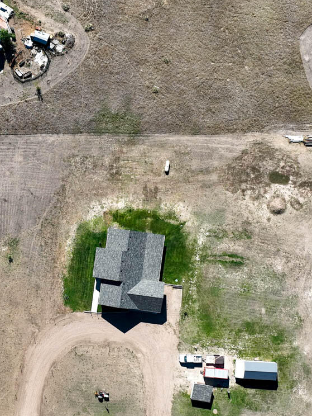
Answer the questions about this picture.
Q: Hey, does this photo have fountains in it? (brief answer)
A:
No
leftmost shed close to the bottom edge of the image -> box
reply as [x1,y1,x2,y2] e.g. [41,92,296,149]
[190,381,213,404]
